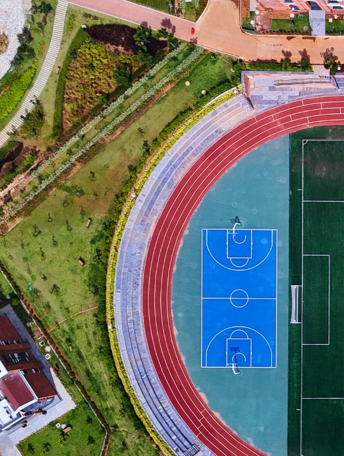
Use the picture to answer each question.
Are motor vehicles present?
No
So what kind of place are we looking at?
sports ground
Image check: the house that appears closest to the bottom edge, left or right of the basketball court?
to its left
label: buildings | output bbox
[0,304,60,437]
[251,0,344,16]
